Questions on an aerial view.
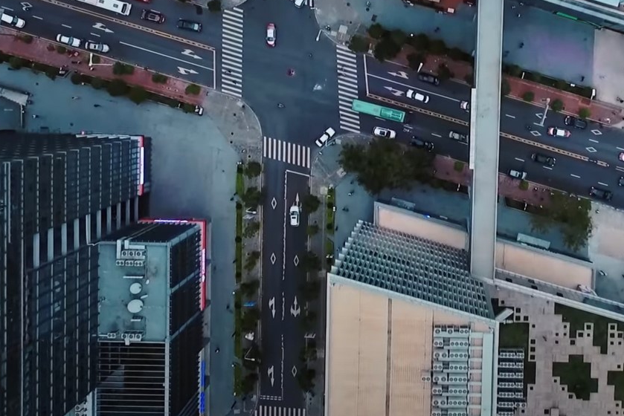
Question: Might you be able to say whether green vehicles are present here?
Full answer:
Yes, you can see a green vehicle in this photo.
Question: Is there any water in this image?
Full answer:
No, there is no water in the image.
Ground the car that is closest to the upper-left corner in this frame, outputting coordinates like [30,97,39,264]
[1,13,27,28]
